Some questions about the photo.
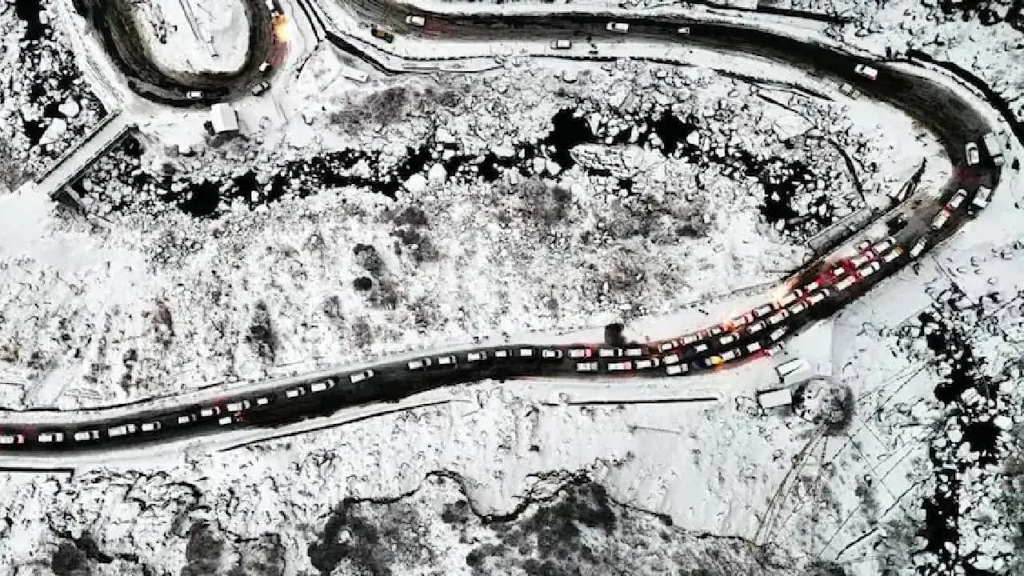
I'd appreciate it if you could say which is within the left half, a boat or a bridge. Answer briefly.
bridge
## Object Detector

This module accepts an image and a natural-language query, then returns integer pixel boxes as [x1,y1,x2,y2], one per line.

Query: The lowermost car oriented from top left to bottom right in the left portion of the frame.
[372,26,393,44]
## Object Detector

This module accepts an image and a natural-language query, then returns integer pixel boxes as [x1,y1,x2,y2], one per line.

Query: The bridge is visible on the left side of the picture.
[31,107,137,221]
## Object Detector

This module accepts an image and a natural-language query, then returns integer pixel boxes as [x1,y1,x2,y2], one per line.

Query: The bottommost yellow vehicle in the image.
[706,354,726,366]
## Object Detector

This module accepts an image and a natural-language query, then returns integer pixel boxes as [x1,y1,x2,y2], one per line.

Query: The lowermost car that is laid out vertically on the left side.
[275,21,288,45]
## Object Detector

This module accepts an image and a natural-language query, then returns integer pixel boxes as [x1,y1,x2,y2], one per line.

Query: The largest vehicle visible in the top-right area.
[981,131,1008,167]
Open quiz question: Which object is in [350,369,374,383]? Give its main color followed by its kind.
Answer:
white car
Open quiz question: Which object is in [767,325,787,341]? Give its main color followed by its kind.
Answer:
white car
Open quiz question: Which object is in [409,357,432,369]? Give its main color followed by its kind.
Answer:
white vehicle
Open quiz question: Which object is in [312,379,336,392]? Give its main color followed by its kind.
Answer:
white vehicle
